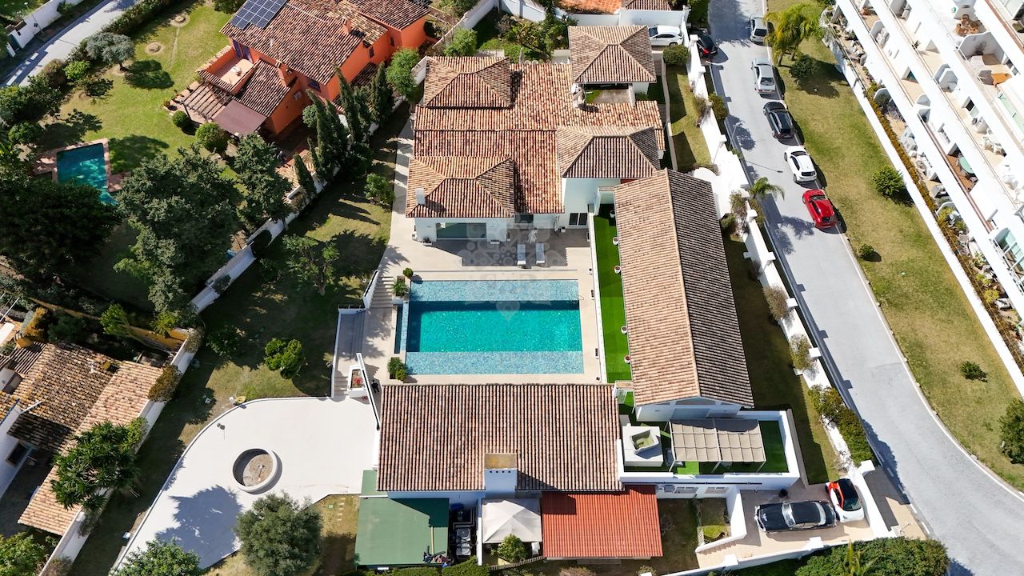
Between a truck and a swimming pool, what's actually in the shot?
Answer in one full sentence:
Visible in the photo is a swimming pool.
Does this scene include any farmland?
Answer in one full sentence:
No, the scene doesn't show any farmland.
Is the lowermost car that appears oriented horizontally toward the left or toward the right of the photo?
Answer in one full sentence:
The lowermost car that appears oriented horizontally sits on the right side.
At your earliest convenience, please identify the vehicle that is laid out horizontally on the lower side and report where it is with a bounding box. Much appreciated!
[757,495,842,532]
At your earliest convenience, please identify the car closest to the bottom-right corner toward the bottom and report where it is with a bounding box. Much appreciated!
[829,478,869,525]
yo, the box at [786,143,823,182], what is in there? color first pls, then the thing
white car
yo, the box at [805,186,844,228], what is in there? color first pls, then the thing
red car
